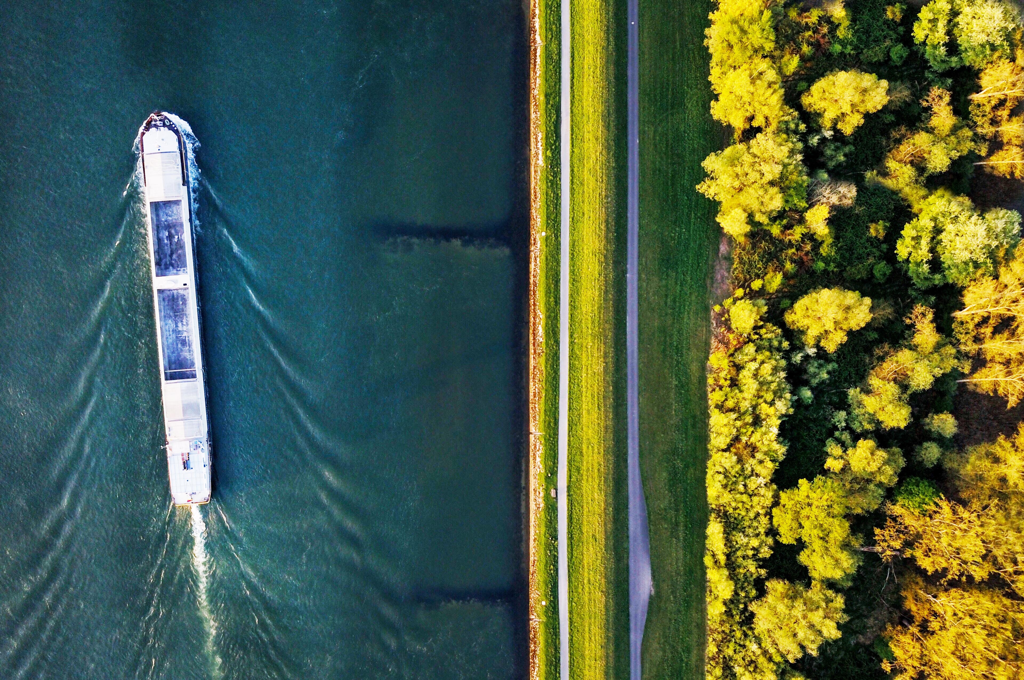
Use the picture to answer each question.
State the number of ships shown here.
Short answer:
1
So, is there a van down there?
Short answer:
No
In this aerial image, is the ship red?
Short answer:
No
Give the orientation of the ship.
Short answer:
vertically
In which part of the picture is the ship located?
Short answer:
left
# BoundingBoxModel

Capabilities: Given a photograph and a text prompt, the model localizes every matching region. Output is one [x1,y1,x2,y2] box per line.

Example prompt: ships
[143,113,214,505]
